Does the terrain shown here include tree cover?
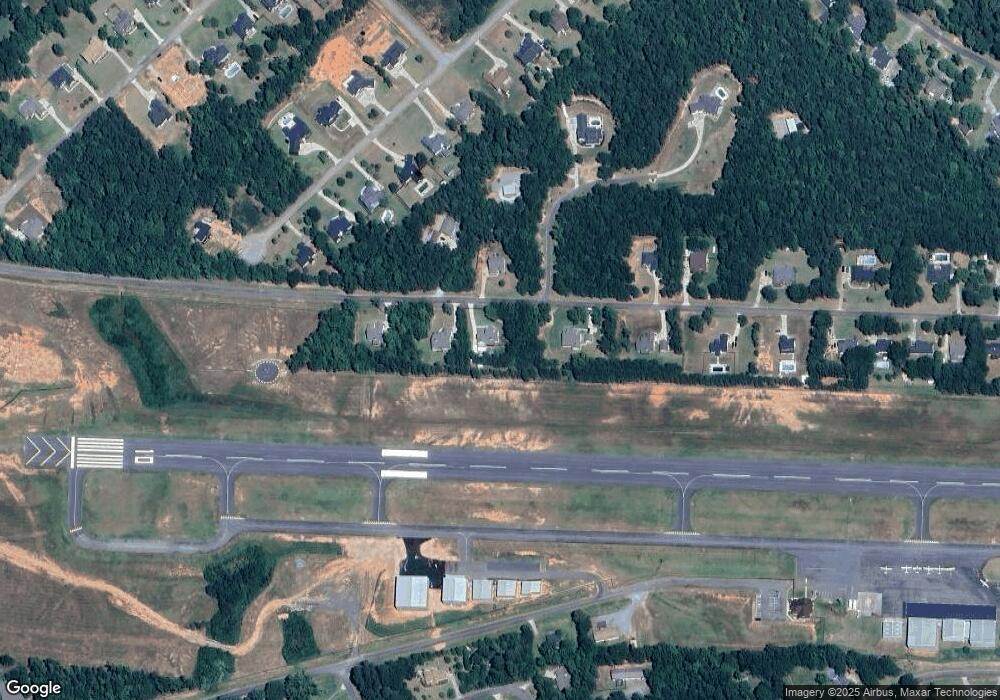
Yes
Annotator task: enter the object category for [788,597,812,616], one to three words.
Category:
building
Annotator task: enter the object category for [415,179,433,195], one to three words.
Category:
swimming pool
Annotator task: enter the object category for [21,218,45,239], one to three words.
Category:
house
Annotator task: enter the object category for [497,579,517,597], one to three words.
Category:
hangar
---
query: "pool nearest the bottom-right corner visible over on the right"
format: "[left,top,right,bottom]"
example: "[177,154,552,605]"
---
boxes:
[779,359,797,373]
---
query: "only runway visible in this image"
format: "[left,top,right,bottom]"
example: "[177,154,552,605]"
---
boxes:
[23,435,1000,498]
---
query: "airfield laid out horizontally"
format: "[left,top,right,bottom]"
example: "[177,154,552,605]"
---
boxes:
[23,435,1000,622]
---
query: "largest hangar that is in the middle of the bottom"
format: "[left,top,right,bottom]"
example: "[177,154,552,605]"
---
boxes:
[396,575,429,609]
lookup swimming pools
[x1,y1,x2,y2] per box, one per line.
[588,117,603,128]
[382,210,393,222]
[716,87,728,99]
[932,252,950,263]
[710,364,726,373]
[779,359,797,373]
[278,113,293,129]
[415,179,433,195]
[225,62,241,77]
[857,255,876,266]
